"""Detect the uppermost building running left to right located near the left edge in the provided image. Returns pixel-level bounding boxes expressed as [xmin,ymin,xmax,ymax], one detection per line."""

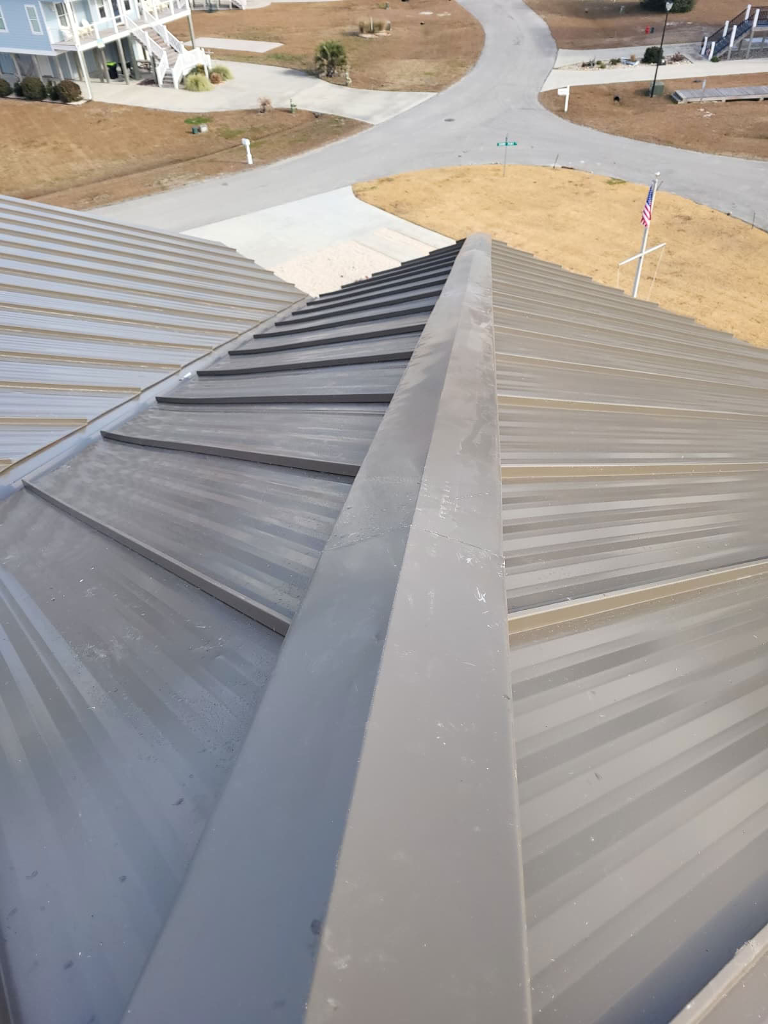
[0,0,215,101]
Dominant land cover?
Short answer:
buildings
